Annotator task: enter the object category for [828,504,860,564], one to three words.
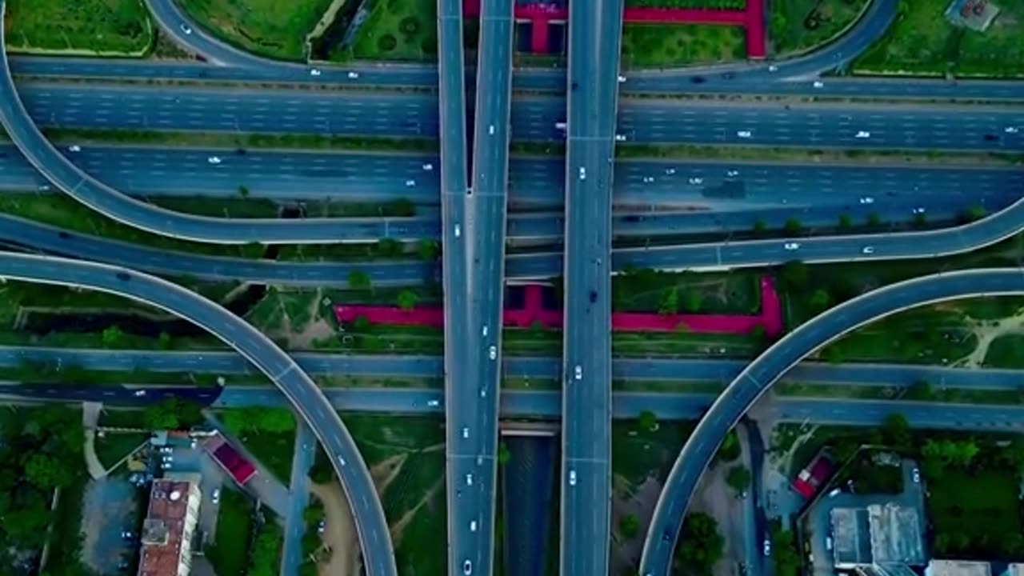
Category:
building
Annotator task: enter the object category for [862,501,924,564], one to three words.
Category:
building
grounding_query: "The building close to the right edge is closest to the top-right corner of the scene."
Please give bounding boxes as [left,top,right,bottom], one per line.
[943,0,1000,33]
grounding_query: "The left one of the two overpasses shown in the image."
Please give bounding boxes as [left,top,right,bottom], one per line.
[437,0,514,576]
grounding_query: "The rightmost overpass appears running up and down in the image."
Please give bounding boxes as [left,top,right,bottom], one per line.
[561,0,623,576]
